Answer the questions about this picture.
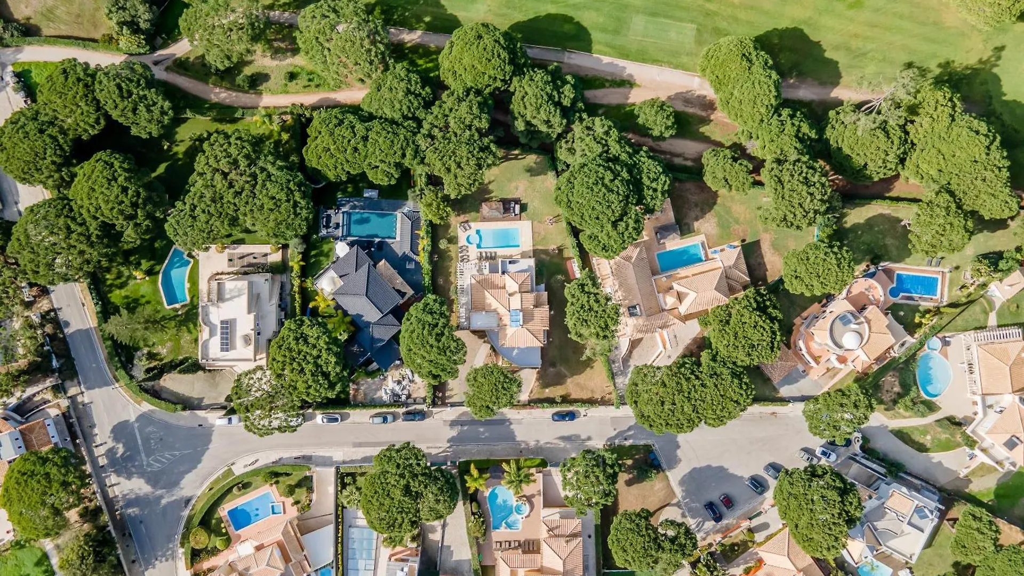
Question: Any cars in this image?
Yes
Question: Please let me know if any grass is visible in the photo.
Yes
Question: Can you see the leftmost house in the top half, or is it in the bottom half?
bottom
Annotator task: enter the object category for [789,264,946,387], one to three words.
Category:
house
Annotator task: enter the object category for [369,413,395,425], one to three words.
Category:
vehicle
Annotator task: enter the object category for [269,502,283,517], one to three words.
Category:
swimming pool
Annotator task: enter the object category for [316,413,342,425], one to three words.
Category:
vehicle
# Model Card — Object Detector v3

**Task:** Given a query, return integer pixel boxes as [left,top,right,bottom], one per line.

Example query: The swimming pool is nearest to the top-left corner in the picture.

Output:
[157,243,195,311]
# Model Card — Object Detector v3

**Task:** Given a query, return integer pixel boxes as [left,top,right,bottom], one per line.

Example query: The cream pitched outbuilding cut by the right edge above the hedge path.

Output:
[982,267,1024,302]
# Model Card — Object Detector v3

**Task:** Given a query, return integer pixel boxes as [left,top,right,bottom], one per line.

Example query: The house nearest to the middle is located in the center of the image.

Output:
[456,221,549,367]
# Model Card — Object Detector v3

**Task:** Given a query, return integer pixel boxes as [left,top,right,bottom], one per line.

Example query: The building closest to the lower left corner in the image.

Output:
[0,380,84,488]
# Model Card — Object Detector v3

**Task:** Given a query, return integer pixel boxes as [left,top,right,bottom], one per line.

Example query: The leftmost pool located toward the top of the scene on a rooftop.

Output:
[340,209,399,240]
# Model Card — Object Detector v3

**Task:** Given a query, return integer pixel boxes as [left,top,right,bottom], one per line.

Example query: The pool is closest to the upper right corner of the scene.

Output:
[887,270,943,301]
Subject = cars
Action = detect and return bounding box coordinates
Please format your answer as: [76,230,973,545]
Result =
[316,413,342,425]
[744,472,767,496]
[760,459,783,480]
[369,413,395,425]
[812,444,838,462]
[718,490,734,512]
[401,410,427,422]
[794,447,819,462]
[552,410,577,423]
[701,497,723,526]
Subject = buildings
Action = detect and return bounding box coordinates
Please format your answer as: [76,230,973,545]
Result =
[735,528,822,576]
[590,198,750,369]
[0,380,84,488]
[456,221,549,367]
[827,451,944,576]
[193,484,335,576]
[789,264,946,387]
[982,267,1024,302]
[199,245,287,373]
[913,326,1024,471]
[478,467,583,576]
[315,199,422,370]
